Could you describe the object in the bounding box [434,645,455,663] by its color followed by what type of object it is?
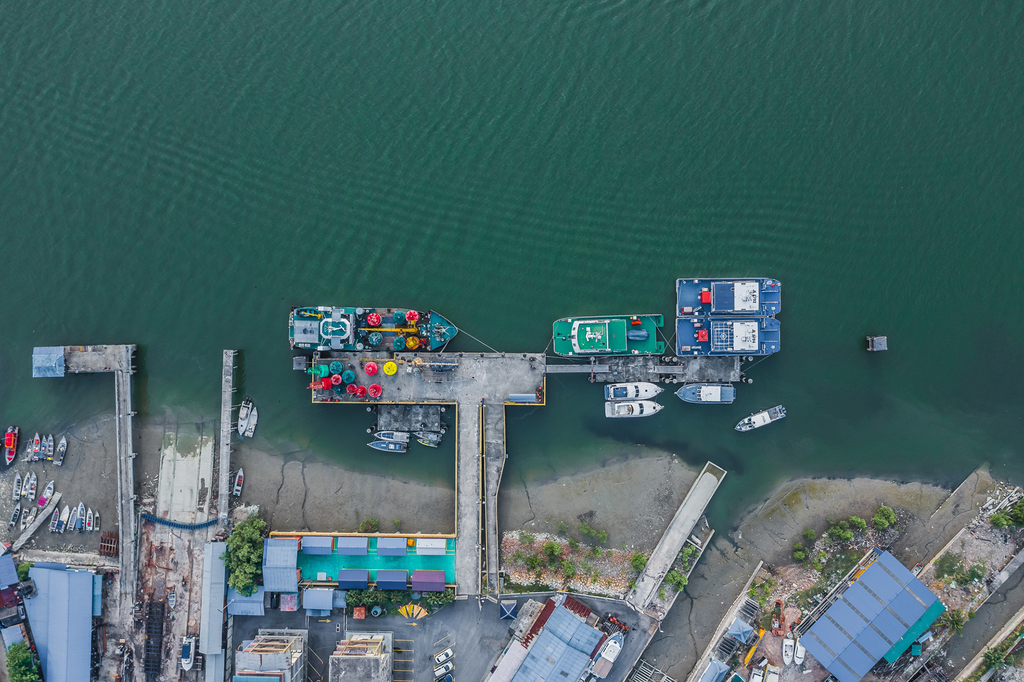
white car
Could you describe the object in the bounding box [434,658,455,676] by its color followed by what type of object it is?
white car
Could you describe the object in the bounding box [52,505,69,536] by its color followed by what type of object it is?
white boat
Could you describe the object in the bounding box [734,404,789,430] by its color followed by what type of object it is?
white boat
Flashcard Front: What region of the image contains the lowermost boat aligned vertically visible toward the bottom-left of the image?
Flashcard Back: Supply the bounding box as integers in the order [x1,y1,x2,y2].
[178,633,196,672]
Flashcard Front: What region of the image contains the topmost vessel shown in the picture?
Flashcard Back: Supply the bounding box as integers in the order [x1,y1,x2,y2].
[676,278,781,317]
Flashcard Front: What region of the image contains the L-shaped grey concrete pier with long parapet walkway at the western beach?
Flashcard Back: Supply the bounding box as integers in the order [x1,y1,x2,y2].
[33,344,149,627]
